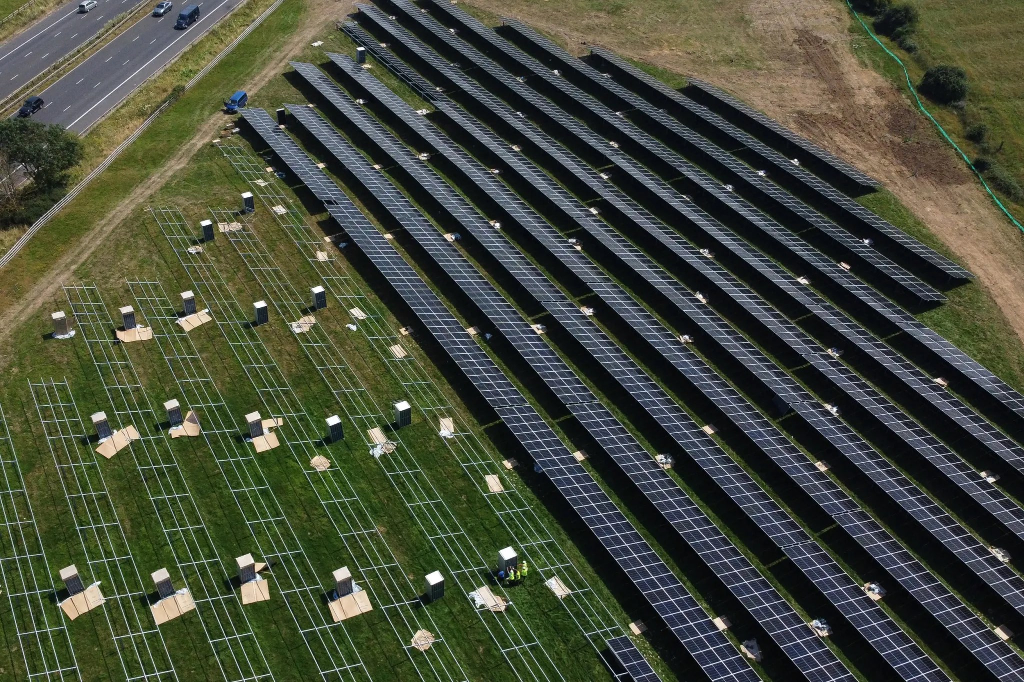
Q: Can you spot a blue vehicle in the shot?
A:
Yes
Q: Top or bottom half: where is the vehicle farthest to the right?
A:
top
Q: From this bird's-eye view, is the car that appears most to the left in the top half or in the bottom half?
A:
top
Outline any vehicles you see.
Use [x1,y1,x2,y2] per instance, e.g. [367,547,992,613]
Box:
[220,87,250,113]
[16,93,44,116]
[152,1,172,15]
[175,7,198,28]
[77,0,98,12]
